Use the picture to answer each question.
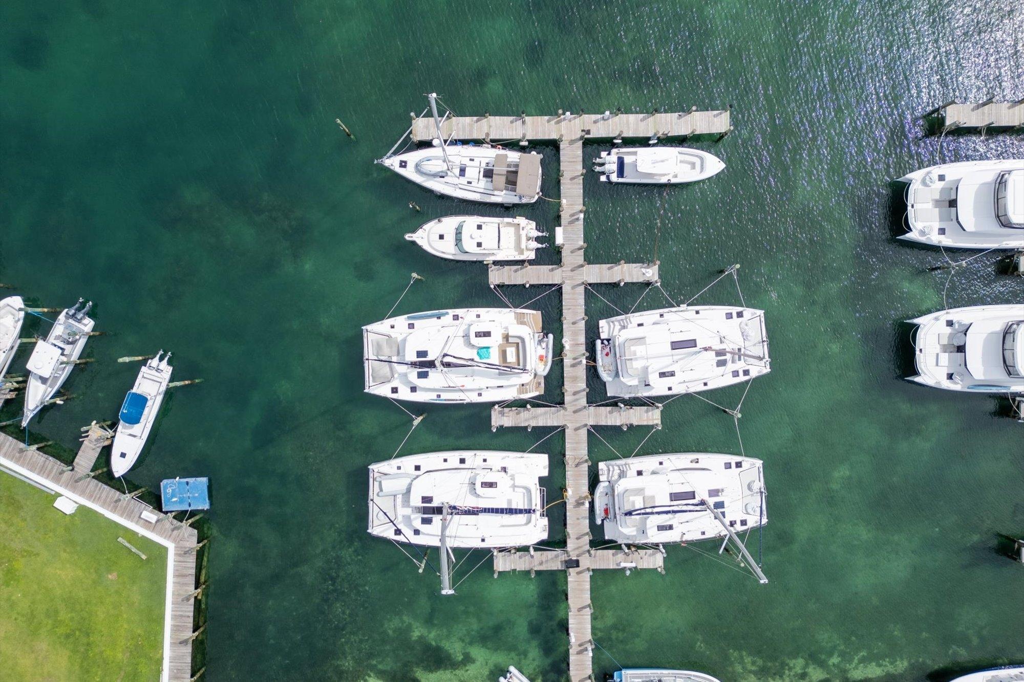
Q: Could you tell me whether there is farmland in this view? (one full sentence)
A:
No, there is no farmland in the image.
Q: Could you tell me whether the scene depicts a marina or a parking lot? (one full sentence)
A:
This looks like a marina.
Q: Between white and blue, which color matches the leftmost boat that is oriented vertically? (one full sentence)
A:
The leftmost boat that is oriented vertically is white.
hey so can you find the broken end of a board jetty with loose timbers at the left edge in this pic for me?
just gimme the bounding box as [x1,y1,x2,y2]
[0,375,30,416]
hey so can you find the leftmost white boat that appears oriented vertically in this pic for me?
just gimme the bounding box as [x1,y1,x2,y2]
[0,297,33,377]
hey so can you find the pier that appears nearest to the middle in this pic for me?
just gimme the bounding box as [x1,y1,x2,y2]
[410,104,733,682]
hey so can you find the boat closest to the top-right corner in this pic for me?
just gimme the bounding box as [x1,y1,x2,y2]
[889,158,1024,249]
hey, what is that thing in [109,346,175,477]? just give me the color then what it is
white boat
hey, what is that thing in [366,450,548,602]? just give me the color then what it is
white boat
